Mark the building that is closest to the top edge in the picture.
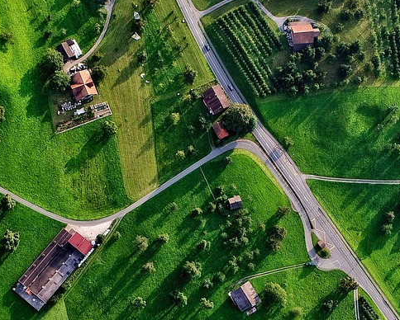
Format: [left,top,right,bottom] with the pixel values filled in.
[289,21,320,49]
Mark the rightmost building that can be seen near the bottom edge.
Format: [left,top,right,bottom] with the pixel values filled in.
[227,280,261,316]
